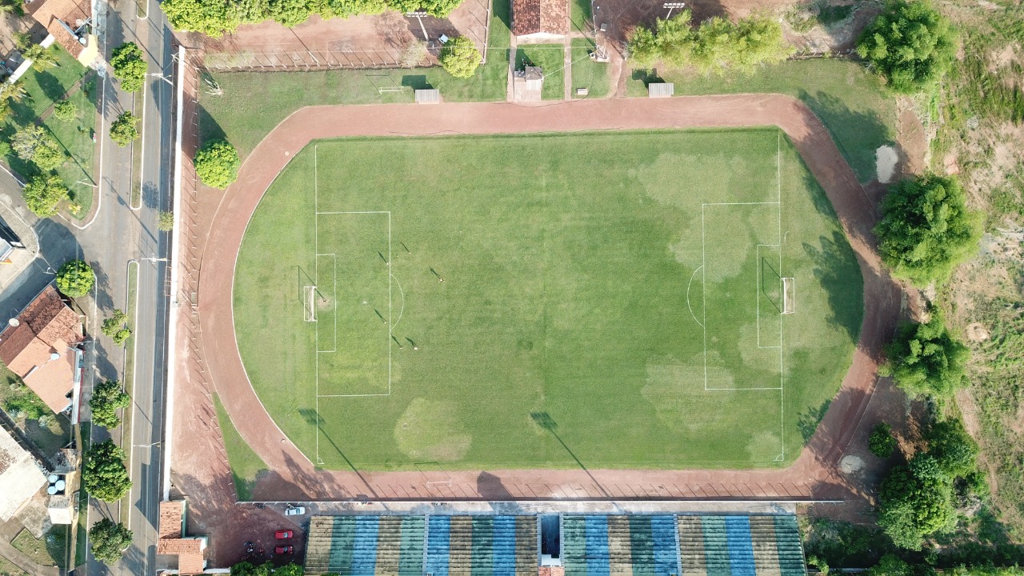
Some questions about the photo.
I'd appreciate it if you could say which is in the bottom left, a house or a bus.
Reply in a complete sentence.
There is a house in the bottom left.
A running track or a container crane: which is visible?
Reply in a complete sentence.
The one in the frame is a running track.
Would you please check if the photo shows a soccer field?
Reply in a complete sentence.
Yes, there's a soccer field here.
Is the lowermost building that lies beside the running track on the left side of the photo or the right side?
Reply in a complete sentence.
You can find the lowermost building that lies beside the running track on the left side of the picture.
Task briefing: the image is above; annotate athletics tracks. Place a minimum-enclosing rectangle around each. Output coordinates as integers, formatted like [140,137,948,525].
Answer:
[198,93,901,502]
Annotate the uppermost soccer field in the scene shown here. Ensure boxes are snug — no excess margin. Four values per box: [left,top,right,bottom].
[232,126,863,471]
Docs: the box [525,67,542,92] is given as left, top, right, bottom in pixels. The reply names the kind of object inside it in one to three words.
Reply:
shed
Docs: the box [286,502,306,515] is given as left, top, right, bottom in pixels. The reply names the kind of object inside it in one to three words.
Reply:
vehicle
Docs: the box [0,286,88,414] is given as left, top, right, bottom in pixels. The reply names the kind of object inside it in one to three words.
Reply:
house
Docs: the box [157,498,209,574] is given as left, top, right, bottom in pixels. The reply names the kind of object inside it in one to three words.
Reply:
building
